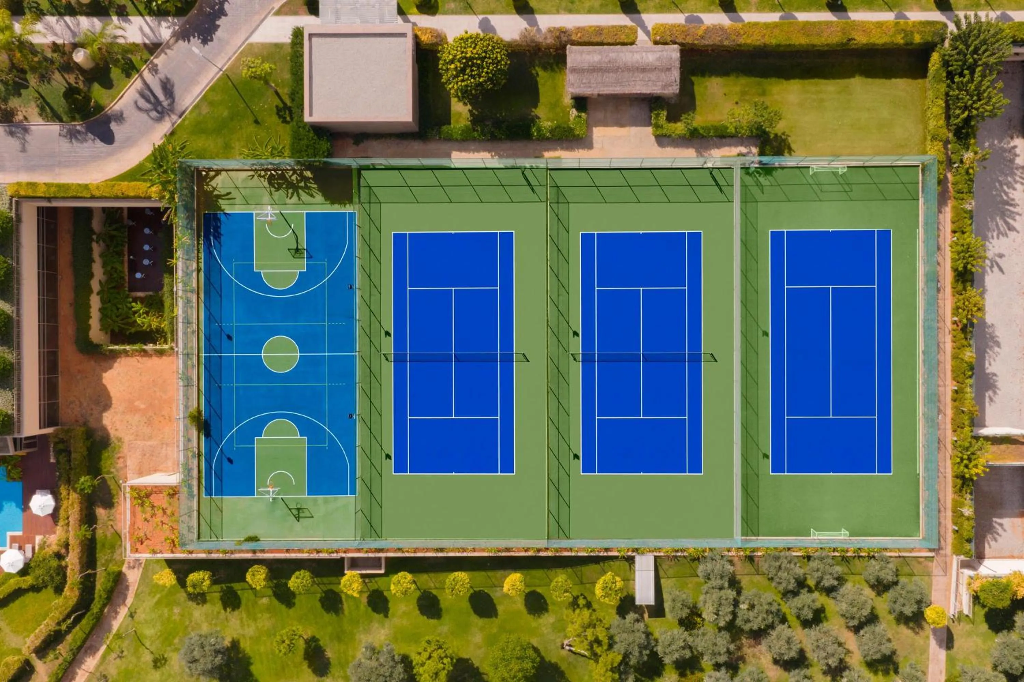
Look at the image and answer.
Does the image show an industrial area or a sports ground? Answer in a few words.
sports ground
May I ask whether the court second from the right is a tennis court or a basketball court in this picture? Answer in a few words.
tennis court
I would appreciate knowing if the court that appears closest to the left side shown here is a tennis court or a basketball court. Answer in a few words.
basketball court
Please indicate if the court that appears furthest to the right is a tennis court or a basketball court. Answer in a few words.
tennis court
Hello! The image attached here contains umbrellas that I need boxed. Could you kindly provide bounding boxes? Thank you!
[0,549,25,573]
[29,491,58,516]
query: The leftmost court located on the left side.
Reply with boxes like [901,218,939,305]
[198,166,357,540]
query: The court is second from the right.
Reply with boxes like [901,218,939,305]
[549,166,733,540]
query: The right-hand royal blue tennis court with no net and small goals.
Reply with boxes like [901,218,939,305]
[742,166,920,538]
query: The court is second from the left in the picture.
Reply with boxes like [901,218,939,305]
[361,166,547,540]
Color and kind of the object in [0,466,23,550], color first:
blue swimming pool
